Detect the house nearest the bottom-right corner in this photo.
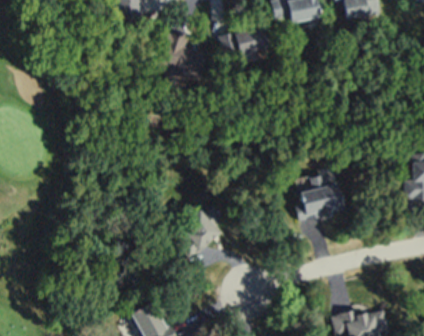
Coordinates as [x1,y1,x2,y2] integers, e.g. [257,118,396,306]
[328,308,388,336]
